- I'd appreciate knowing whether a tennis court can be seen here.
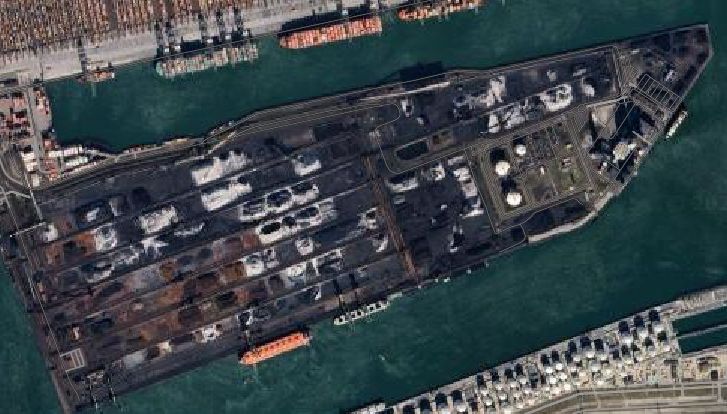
No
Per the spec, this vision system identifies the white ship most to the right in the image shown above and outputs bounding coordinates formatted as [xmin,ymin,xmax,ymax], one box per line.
[665,111,689,140]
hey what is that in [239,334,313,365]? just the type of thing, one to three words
ship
